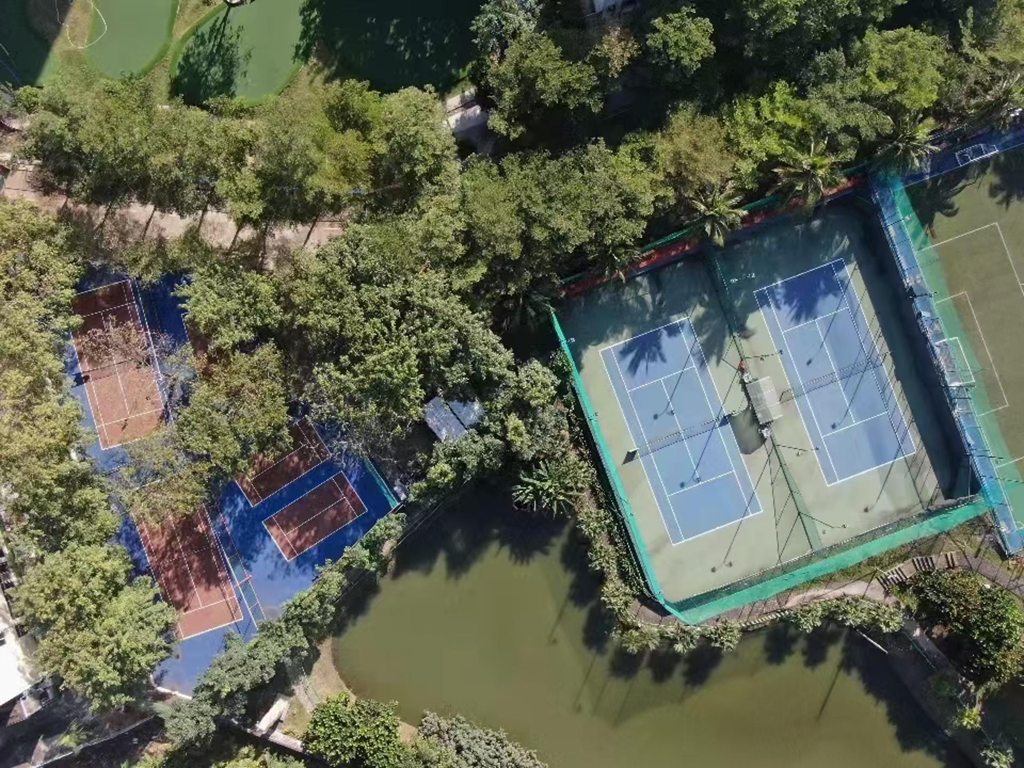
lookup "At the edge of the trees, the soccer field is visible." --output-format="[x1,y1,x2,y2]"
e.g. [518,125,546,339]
[861,115,1024,555]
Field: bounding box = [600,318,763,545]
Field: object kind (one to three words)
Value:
tennis court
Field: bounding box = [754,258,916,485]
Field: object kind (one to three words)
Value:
tennis court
